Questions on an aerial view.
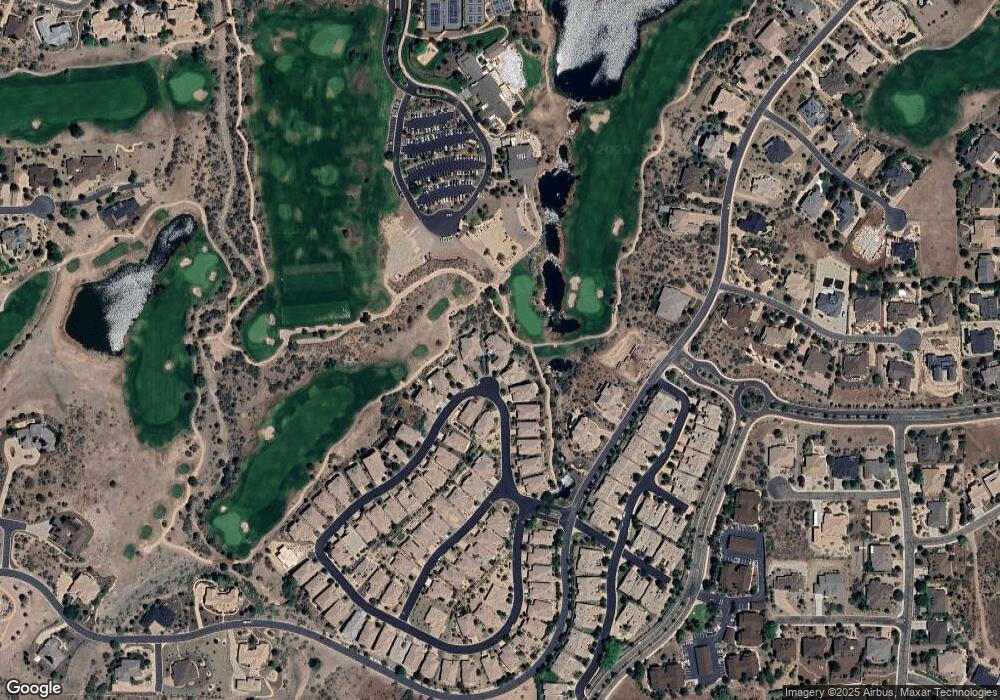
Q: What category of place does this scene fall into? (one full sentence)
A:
What you see here is a residential area.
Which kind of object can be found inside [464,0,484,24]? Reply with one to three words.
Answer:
sports court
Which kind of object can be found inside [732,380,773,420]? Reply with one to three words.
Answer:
roundabout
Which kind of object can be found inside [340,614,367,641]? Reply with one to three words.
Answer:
house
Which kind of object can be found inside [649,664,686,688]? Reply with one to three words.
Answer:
building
